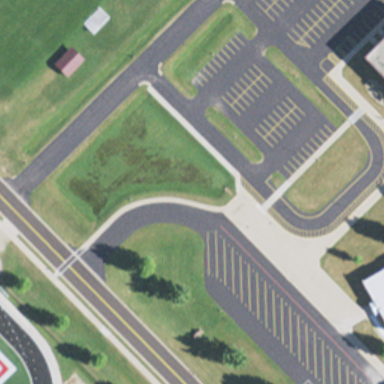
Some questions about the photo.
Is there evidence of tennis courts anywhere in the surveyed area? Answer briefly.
No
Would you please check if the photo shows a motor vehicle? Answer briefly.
No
